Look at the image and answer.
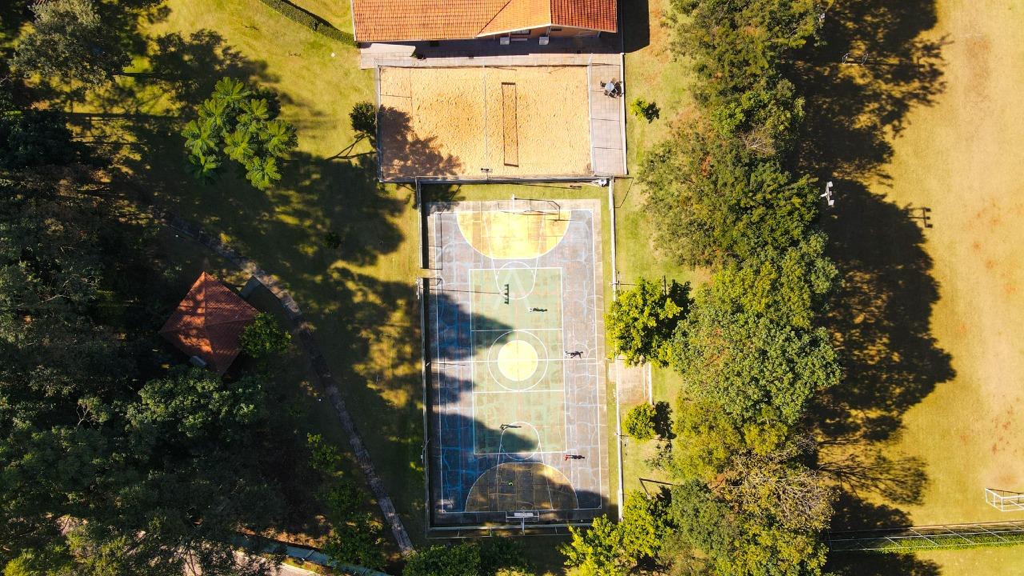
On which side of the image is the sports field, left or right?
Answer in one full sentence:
You can find the sports field on the right side of the picture.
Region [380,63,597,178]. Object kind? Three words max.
sports court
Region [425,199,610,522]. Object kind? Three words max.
sports court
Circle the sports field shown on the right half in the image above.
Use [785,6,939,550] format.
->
[872,34,1024,488]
